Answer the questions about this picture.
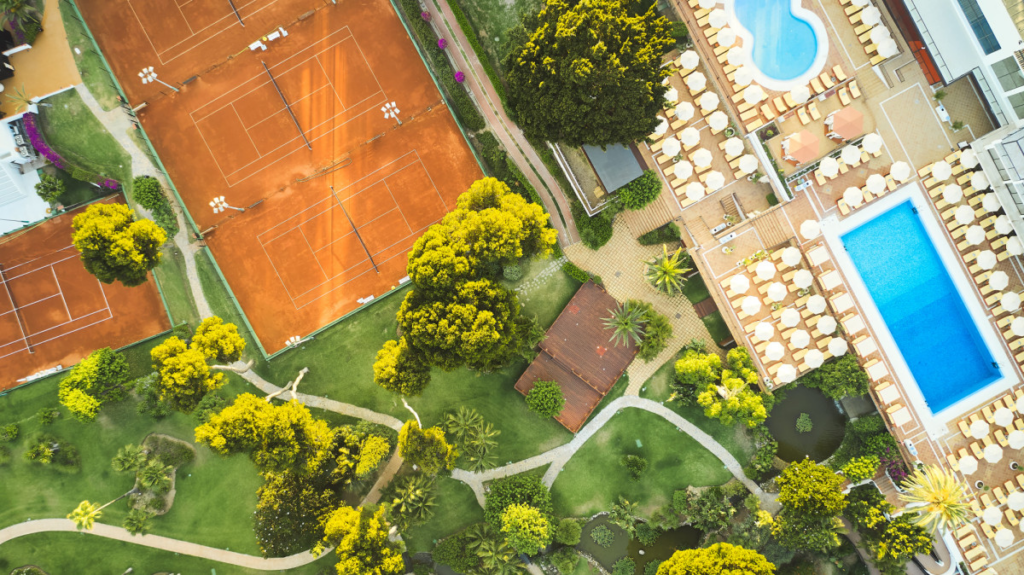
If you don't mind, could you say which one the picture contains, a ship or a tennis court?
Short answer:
tennis court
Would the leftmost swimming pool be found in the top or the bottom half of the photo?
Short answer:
top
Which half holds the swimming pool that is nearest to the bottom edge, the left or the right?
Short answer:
right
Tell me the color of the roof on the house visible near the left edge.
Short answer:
white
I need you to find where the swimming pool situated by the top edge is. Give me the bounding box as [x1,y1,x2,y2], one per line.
[720,0,829,91]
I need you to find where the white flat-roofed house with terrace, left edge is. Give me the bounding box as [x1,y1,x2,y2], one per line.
[0,120,54,234]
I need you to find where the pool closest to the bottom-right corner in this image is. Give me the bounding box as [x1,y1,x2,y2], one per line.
[821,182,1020,441]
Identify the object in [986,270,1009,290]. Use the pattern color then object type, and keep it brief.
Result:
white umbrella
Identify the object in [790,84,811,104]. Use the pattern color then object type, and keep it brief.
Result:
white umbrella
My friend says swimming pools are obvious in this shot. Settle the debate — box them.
[821,182,1020,441]
[720,0,829,91]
